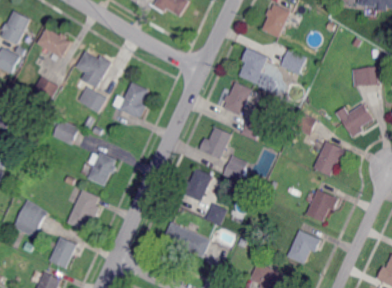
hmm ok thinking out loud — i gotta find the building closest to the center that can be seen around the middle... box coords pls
[200,126,232,159]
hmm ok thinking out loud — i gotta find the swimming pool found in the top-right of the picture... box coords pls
[306,31,324,49]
